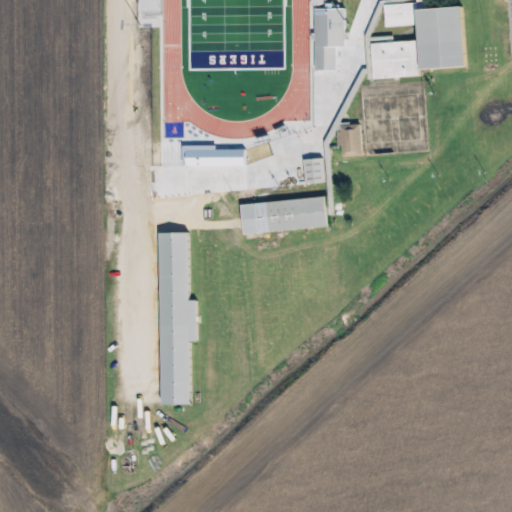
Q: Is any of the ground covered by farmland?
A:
Yes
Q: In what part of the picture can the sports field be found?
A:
top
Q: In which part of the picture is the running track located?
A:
top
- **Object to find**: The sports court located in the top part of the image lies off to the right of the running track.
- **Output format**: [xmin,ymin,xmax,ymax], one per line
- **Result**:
[362,82,429,154]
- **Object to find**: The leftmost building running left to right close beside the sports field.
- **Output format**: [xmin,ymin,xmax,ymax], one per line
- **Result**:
[184,150,247,166]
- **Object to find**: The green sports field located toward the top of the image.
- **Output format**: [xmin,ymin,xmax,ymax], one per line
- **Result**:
[182,0,292,122]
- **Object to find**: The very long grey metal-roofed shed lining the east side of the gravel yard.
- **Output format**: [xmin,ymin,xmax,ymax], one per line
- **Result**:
[158,232,198,404]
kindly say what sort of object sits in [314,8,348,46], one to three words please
building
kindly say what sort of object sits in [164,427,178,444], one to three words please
vehicle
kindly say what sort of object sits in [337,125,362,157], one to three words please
house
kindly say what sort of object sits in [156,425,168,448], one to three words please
vehicle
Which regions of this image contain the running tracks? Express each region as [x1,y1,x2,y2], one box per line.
[165,0,310,140]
